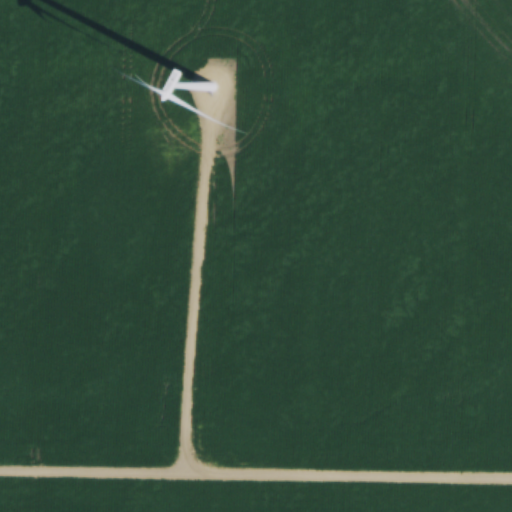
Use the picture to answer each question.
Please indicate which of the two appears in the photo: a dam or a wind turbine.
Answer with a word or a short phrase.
wind turbine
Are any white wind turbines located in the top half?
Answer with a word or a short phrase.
Yes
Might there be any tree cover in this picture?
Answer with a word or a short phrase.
No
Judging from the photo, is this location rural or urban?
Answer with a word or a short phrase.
rural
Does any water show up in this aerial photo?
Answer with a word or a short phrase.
No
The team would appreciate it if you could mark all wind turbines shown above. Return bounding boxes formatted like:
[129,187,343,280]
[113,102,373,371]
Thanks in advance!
[118,68,242,134]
